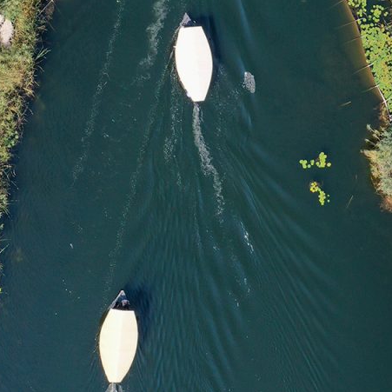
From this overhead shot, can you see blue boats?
No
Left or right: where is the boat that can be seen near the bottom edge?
left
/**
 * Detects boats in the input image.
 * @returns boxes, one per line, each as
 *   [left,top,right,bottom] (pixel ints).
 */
[172,14,212,107]
[100,291,137,383]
